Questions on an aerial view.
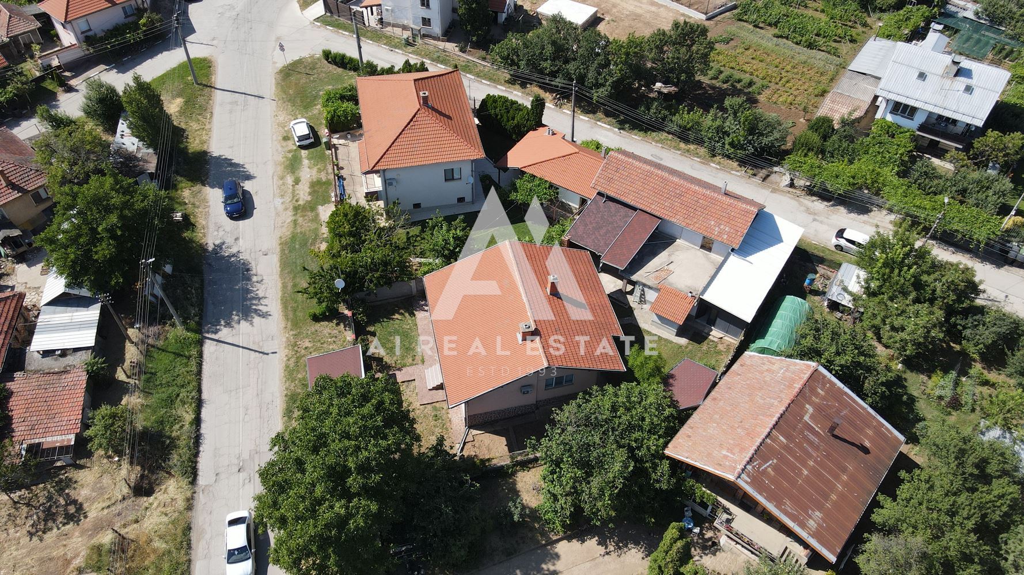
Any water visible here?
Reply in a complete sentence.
No, water can't be seen anywhere here.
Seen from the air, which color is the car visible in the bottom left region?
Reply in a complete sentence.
The car visible in the bottom left region looks white in the image.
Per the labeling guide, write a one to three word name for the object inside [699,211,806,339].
building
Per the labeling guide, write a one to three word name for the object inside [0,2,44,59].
house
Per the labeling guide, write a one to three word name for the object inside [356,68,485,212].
house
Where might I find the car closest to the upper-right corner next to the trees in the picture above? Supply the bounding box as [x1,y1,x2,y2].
[834,230,882,262]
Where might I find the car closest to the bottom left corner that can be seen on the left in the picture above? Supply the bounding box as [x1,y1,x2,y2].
[221,511,256,575]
